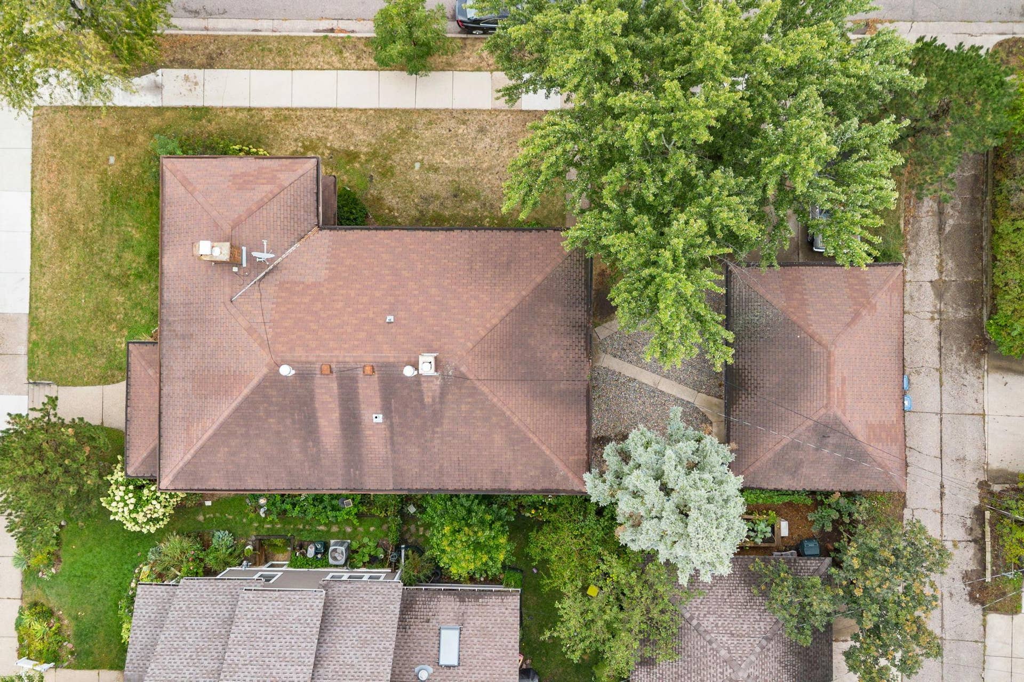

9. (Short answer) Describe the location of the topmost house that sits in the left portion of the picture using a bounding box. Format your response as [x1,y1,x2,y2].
[126,156,594,493]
